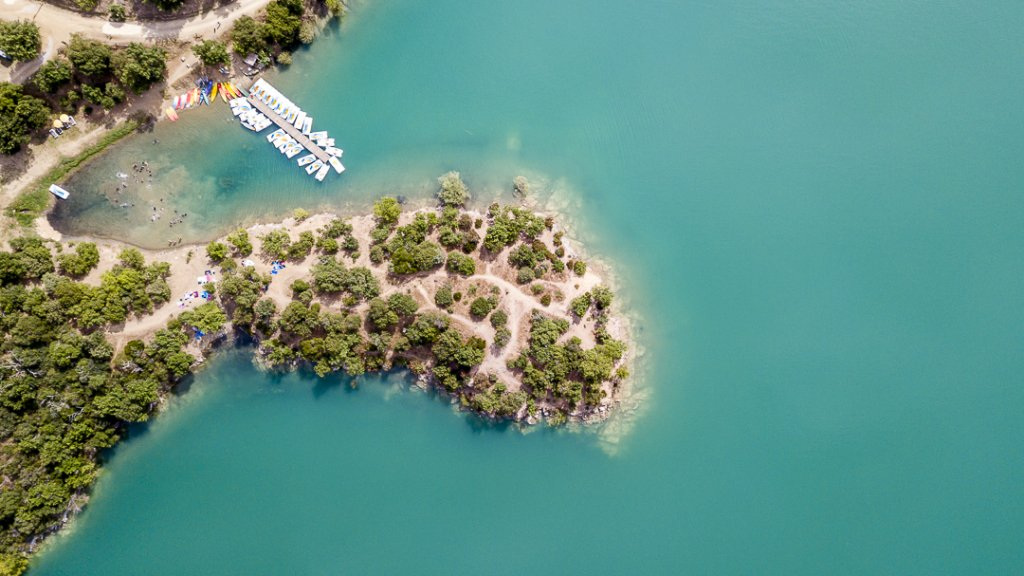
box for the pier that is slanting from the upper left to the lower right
[245,92,330,162]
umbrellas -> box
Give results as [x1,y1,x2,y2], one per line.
[53,119,65,128]
[60,113,70,123]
